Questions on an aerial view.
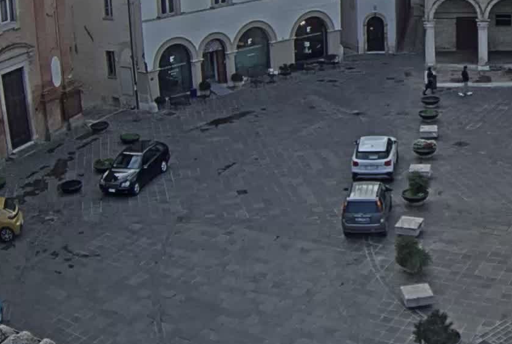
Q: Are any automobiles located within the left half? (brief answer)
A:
Yes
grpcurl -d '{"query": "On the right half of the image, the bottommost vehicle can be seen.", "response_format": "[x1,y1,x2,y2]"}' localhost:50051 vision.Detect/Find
[350,174,399,229]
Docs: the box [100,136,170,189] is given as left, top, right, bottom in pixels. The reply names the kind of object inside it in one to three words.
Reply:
car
